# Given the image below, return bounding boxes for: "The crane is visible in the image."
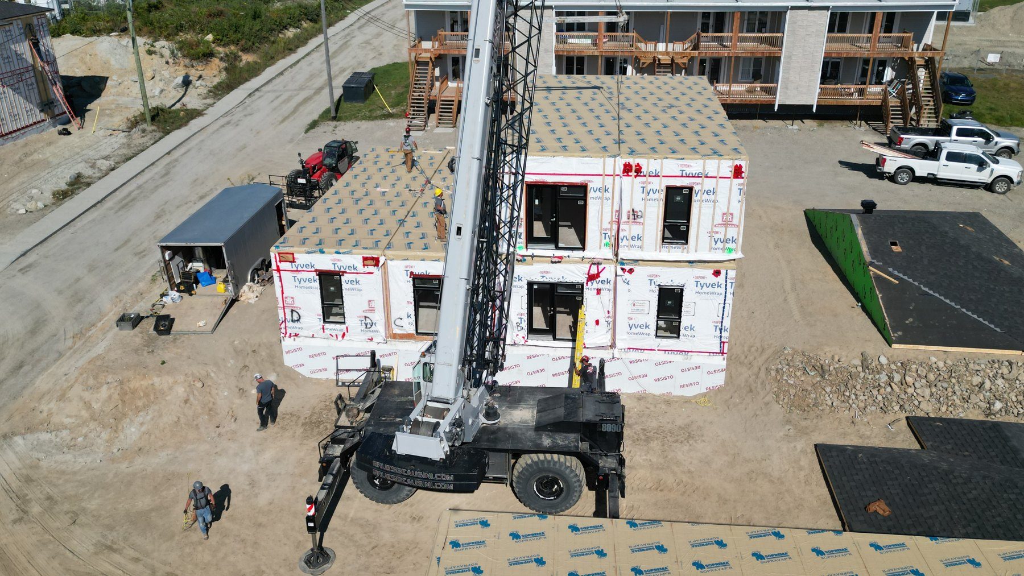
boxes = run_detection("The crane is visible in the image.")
[298,0,630,575]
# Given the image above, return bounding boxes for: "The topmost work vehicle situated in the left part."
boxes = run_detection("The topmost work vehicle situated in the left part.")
[259,135,371,206]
